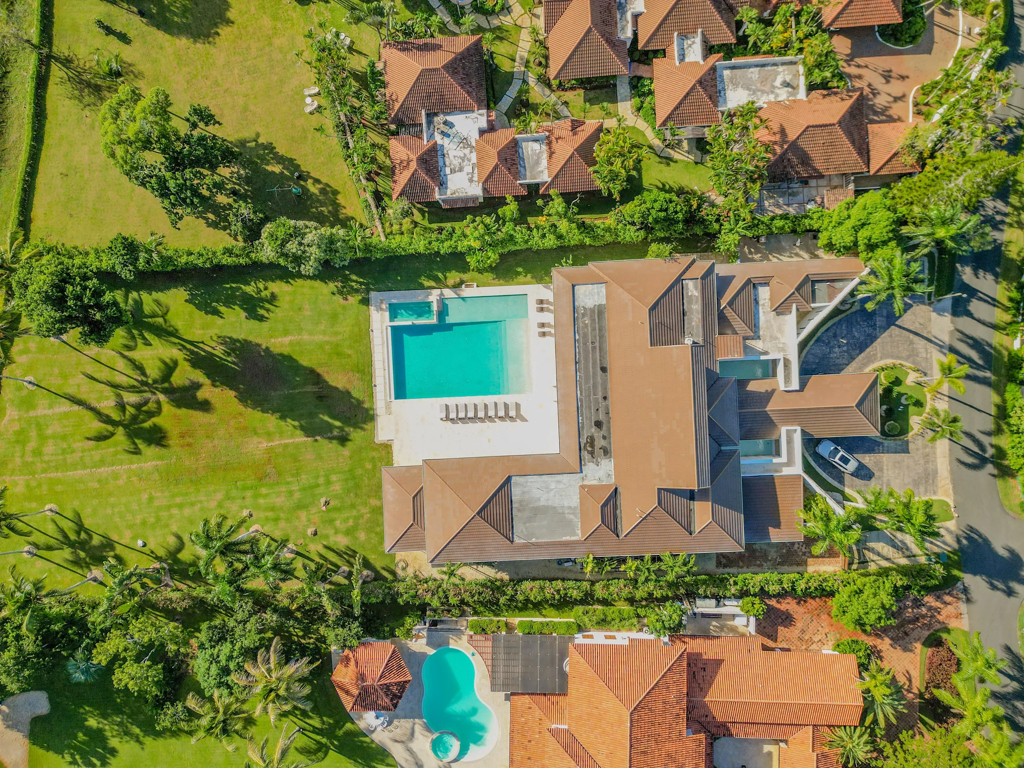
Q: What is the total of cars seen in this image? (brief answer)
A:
1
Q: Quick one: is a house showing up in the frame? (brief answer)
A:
Yes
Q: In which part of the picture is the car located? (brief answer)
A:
right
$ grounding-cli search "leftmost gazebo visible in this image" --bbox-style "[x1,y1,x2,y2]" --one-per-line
[330,638,414,713]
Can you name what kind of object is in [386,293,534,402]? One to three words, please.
swimming pool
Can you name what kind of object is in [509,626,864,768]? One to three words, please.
house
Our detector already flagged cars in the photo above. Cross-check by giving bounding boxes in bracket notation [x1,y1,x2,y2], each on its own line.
[810,438,863,478]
